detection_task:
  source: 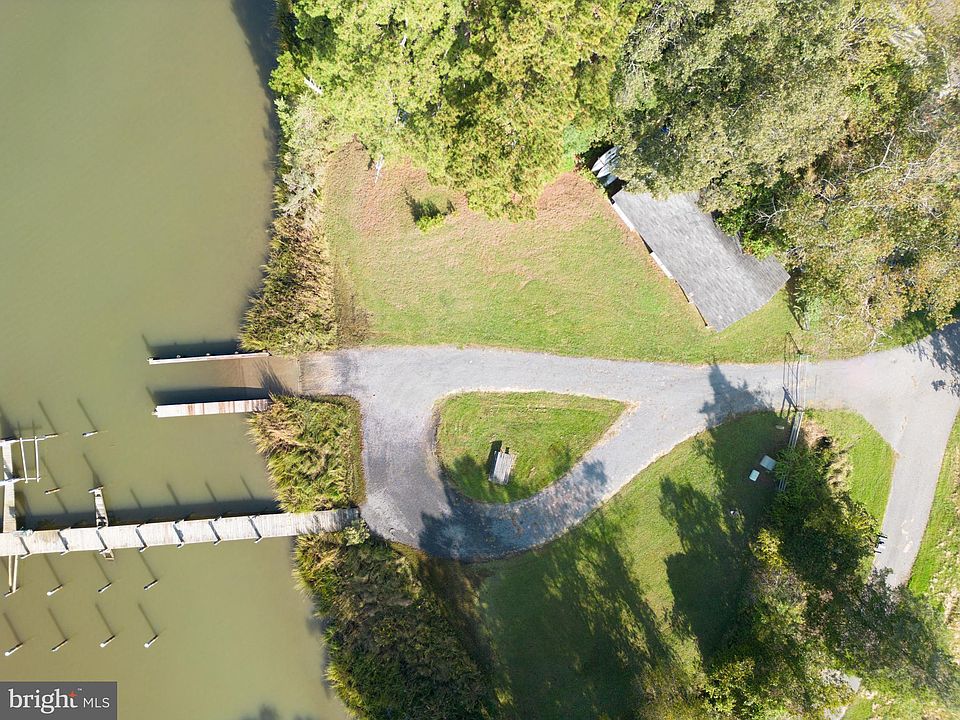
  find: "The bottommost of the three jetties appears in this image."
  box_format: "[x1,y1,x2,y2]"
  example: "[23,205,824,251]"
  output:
[0,505,362,563]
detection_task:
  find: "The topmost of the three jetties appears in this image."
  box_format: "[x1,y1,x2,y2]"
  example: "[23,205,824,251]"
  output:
[147,398,273,418]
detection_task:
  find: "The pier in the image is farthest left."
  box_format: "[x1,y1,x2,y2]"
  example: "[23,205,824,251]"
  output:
[0,442,27,532]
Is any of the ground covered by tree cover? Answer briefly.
Yes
